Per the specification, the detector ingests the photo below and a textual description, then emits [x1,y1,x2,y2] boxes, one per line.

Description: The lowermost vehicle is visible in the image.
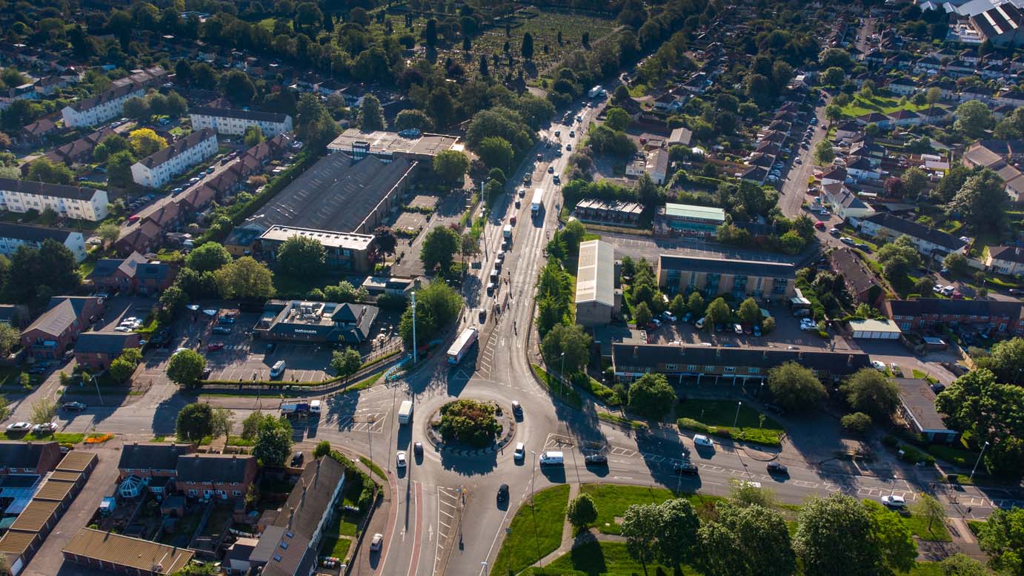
[368,534,383,553]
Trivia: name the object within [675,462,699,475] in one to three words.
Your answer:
vehicle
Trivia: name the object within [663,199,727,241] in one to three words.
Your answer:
building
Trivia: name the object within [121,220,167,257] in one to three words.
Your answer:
house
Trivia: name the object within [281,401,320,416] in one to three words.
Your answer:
vehicle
